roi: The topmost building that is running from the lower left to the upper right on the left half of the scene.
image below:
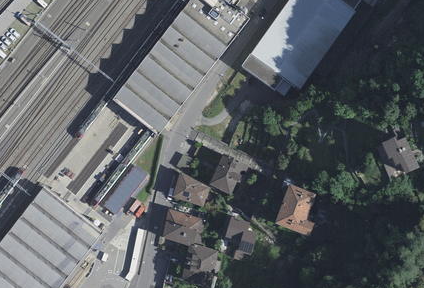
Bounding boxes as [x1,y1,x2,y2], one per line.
[112,9,227,136]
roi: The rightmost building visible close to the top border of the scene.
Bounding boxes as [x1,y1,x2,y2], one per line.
[242,0,360,96]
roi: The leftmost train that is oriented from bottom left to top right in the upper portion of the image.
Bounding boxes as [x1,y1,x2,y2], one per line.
[76,84,116,138]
